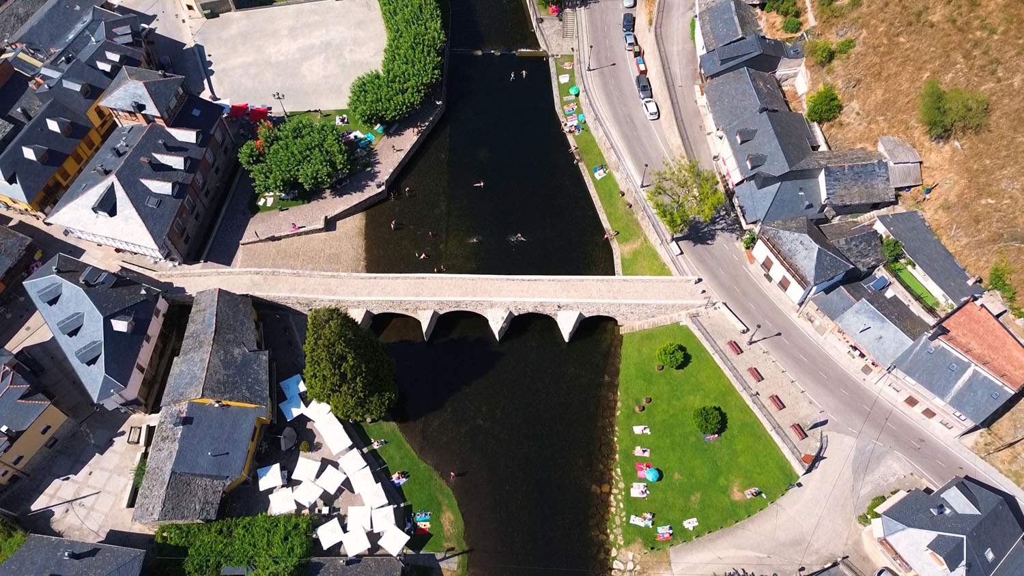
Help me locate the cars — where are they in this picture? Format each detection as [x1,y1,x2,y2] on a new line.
[642,97,661,120]
[624,0,635,8]
[624,28,639,50]
[637,72,653,97]
[623,13,636,31]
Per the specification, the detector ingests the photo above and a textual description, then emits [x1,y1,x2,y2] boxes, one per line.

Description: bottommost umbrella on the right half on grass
[648,468,663,483]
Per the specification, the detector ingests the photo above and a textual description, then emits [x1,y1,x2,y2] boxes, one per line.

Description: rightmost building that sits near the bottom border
[866,476,1024,576]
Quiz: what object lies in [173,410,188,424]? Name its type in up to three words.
chimney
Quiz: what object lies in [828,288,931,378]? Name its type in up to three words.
house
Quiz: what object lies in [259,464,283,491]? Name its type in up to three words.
umbrella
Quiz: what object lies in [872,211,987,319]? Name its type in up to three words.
building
